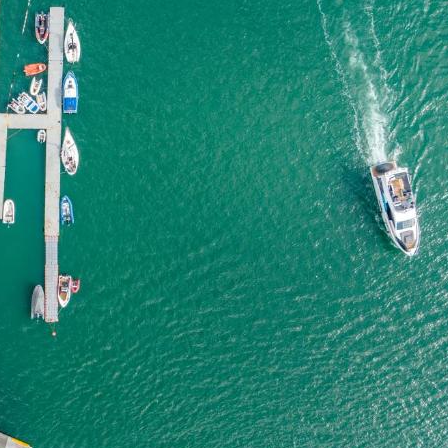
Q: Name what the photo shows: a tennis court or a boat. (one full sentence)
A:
It is a boat that can be seen here.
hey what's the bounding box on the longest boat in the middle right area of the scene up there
[368,157,421,257]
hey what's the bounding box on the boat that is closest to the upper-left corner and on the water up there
[34,10,49,43]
